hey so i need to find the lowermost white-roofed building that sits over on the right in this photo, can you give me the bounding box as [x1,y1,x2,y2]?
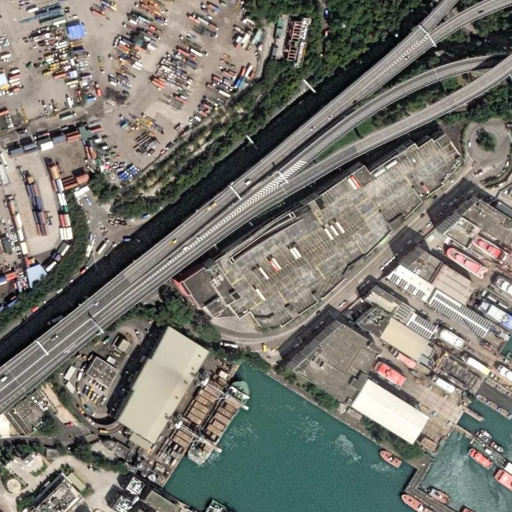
[348,378,430,444]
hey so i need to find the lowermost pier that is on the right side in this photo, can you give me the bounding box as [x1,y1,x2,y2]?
[404,462,456,512]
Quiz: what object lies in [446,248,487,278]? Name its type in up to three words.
ship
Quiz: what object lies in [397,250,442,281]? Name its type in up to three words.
house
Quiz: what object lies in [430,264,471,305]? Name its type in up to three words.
shed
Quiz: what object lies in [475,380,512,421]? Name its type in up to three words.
pier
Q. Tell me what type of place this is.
port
